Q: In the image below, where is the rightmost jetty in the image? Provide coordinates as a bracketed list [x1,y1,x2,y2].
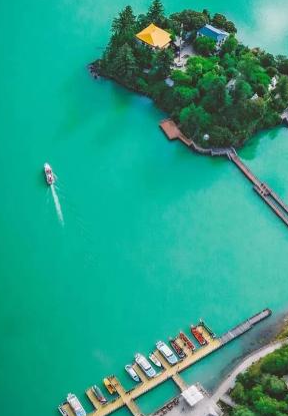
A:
[218,310,272,348]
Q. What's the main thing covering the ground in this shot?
water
